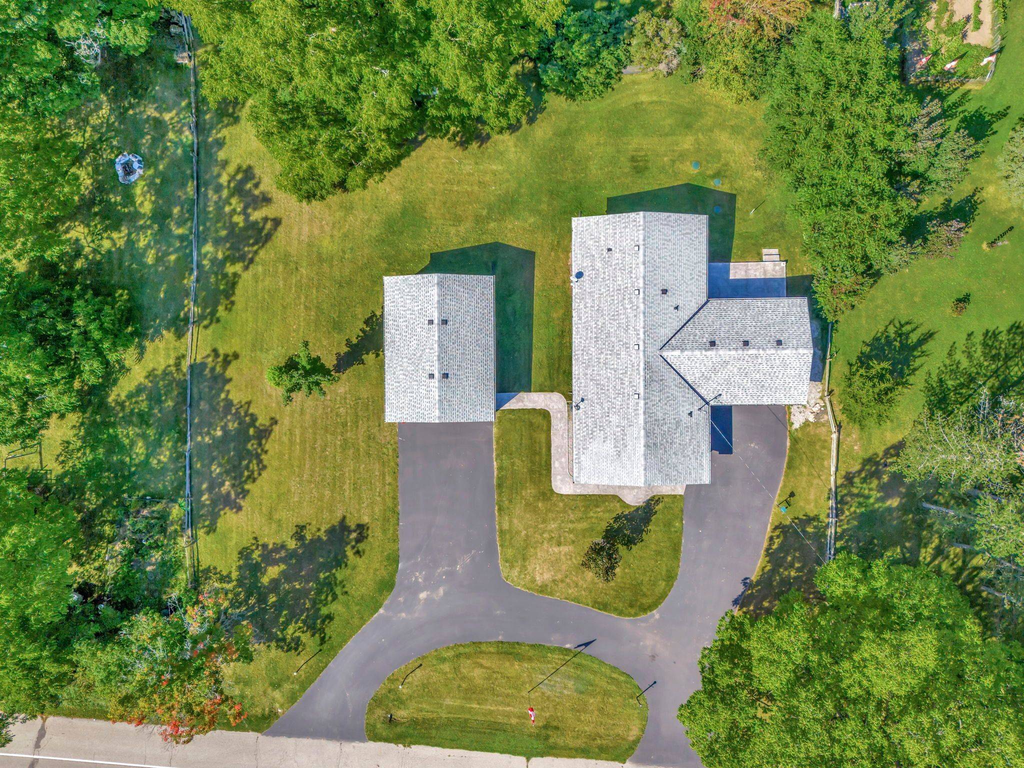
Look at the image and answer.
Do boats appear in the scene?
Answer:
No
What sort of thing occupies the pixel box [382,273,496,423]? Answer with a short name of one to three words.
building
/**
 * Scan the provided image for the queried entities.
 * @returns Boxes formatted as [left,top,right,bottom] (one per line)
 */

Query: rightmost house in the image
[568,211,814,487]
